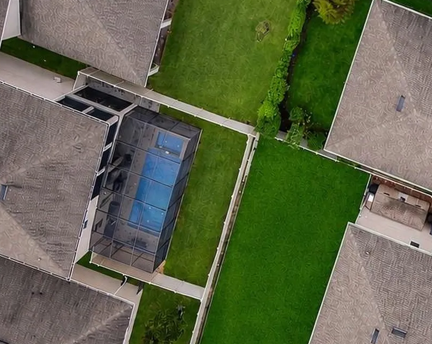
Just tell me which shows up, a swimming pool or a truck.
swimming pool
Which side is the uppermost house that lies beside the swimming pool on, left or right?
left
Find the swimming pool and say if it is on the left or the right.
left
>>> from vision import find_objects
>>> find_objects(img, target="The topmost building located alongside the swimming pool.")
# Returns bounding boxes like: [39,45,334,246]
[18,0,177,86]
